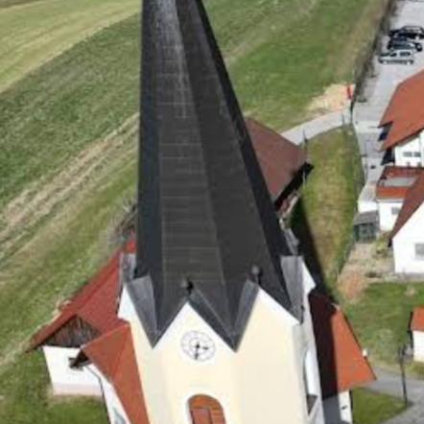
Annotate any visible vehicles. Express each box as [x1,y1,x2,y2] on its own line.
[389,35,424,50]
[379,47,416,64]
[391,24,424,39]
